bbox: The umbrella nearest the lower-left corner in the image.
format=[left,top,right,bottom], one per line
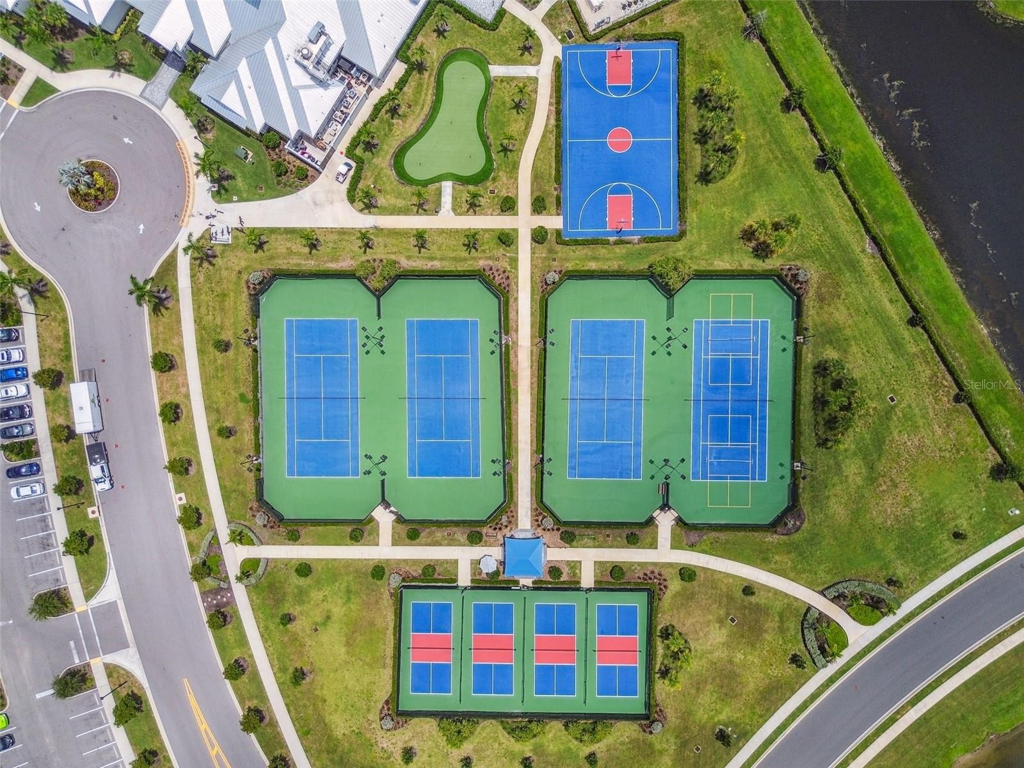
[480,554,497,571]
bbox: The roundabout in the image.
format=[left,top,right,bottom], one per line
[66,158,120,213]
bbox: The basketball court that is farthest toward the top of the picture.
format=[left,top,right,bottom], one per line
[562,42,679,238]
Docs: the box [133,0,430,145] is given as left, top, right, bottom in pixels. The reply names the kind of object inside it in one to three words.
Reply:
building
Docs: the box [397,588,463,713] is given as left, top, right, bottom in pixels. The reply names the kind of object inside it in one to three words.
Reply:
sports court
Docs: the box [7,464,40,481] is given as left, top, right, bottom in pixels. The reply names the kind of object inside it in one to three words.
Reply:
car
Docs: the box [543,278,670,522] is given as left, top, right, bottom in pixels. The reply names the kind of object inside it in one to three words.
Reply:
tennis court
